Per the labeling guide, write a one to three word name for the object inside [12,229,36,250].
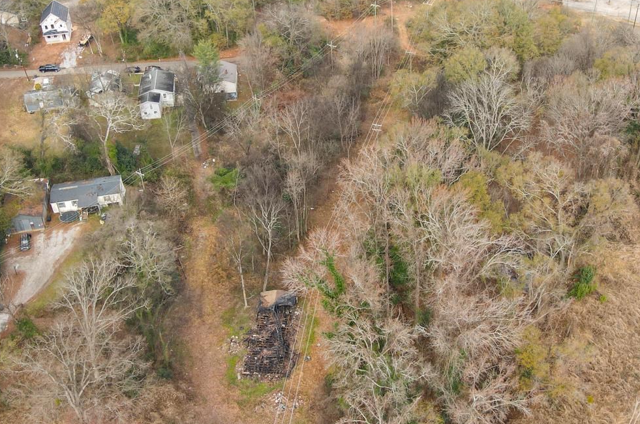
vehicle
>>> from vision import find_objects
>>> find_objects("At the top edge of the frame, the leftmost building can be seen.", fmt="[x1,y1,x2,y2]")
[0,3,26,28]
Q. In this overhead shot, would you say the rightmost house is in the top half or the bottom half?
bottom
